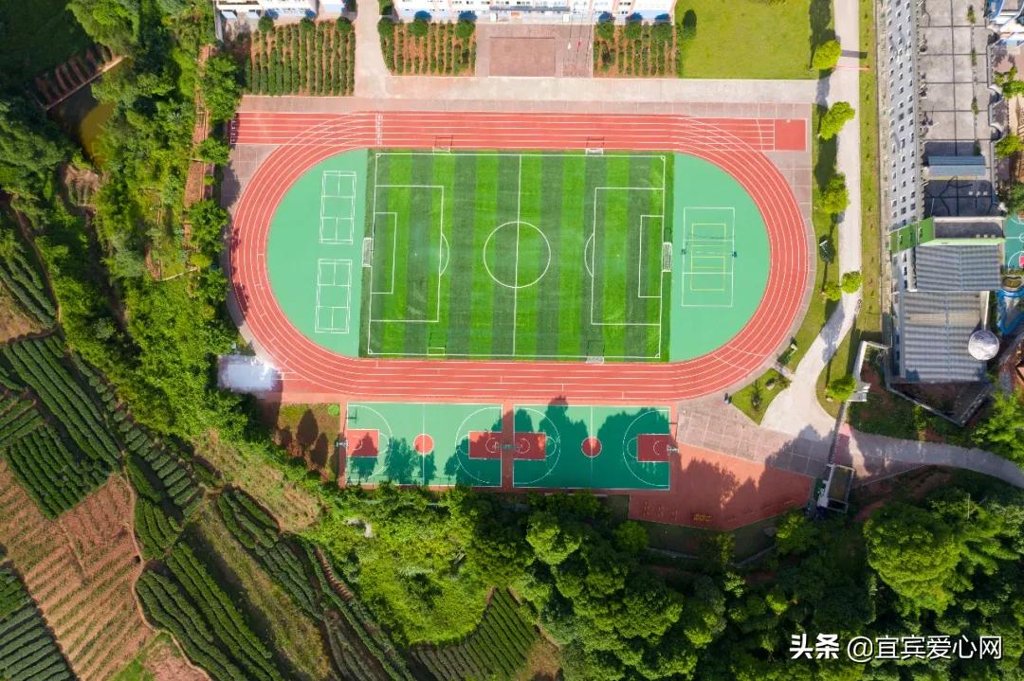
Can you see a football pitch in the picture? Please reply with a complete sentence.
Yes, the image includes a football pitch.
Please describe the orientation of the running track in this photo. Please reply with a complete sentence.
The running track has been laid out from side to side relative to the frame.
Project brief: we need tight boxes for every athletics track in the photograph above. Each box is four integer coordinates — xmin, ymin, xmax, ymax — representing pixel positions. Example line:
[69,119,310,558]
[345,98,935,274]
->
[229,109,810,401]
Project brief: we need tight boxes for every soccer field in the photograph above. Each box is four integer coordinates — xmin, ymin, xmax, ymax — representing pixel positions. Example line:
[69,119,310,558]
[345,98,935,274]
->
[360,149,675,362]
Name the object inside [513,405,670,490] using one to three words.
basketball court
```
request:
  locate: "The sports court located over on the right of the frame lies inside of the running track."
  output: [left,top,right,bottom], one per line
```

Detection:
[682,207,734,307]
